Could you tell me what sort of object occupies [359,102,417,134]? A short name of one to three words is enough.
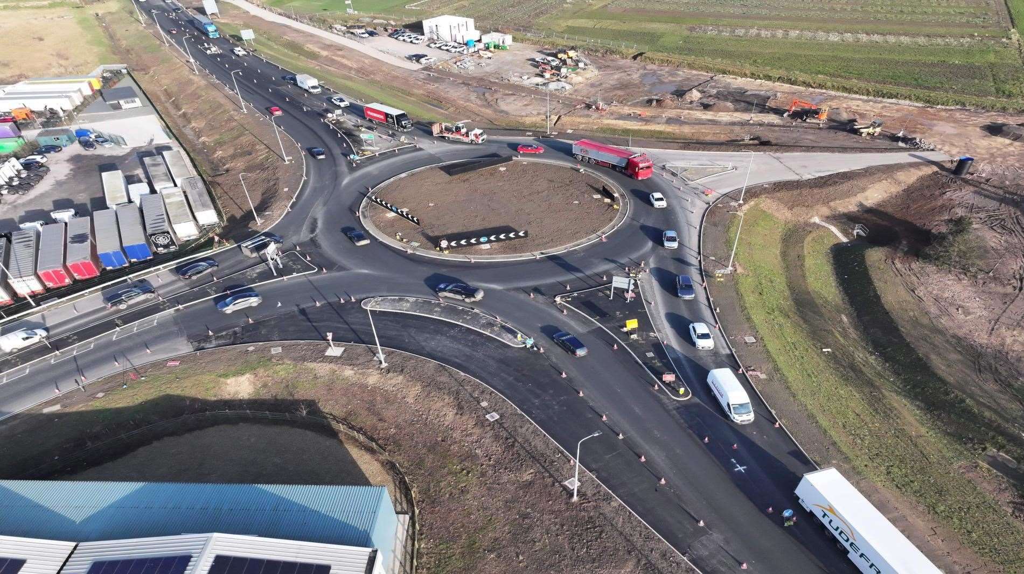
truck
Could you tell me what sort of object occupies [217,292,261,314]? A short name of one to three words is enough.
car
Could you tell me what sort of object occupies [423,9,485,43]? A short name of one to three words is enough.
building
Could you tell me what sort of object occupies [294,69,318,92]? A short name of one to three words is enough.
vehicle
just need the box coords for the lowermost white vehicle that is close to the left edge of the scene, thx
[0,326,47,352]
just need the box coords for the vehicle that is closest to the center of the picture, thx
[438,280,481,301]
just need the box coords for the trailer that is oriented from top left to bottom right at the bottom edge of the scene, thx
[796,466,942,574]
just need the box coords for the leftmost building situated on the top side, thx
[103,83,144,111]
